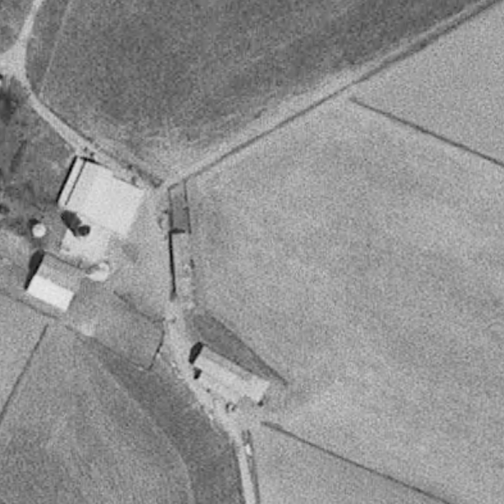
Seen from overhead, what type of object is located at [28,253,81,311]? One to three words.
barn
